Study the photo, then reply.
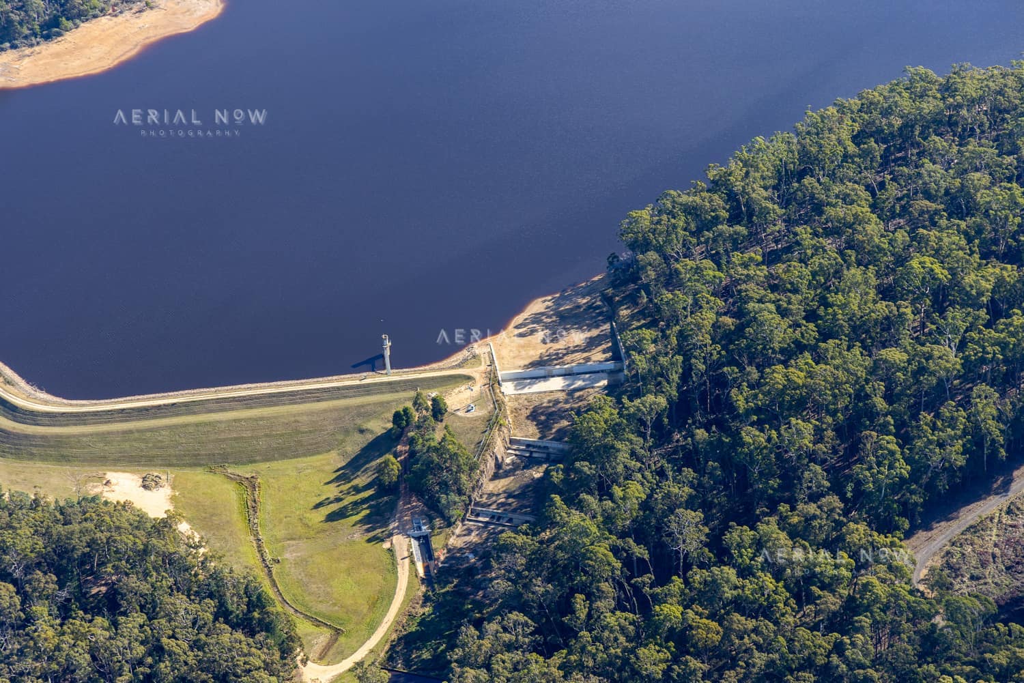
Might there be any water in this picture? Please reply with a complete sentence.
Yes, water can be seen from above here.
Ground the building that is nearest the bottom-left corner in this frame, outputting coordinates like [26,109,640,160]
[405,513,434,541]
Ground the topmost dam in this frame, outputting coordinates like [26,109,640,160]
[501,362,622,386]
